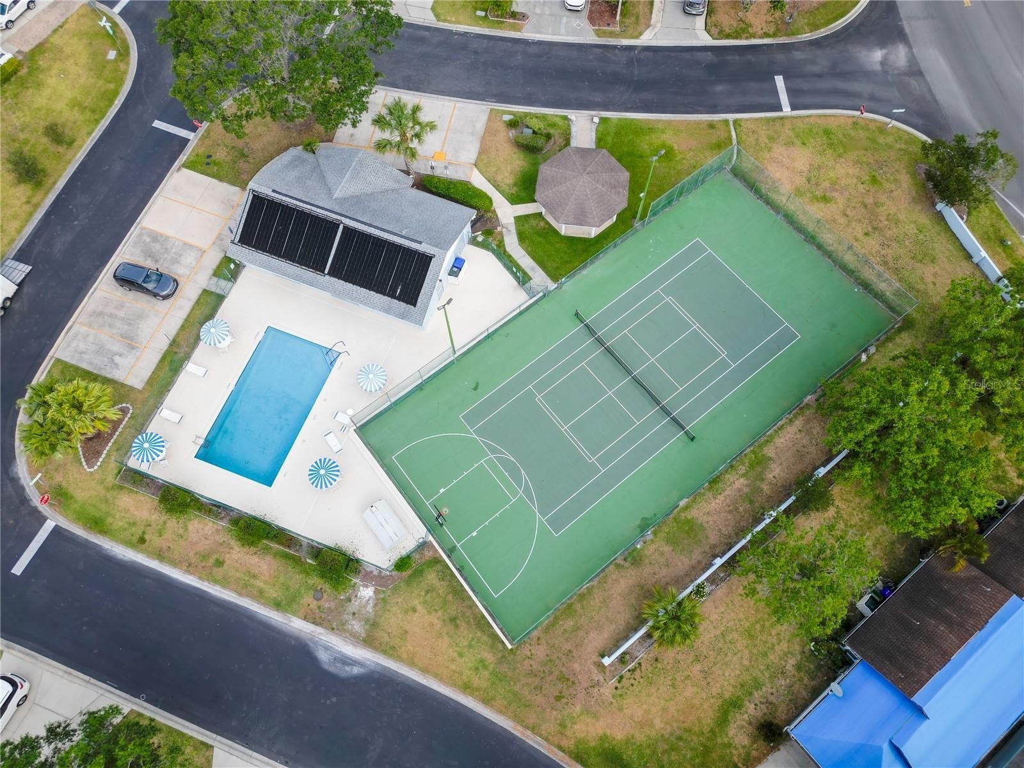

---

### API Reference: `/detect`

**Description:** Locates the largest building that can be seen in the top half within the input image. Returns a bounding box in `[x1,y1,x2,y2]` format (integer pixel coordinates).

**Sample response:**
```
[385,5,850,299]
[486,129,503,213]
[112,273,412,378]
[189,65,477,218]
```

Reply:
[225,147,479,331]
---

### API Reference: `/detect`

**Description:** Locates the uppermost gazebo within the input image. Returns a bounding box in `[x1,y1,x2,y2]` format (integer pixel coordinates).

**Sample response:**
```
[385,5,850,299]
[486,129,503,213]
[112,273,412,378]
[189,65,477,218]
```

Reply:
[535,148,629,238]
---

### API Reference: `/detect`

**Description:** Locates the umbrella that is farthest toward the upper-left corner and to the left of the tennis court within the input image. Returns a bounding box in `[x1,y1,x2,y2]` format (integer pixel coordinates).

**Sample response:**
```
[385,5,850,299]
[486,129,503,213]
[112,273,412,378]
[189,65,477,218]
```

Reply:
[202,321,232,349]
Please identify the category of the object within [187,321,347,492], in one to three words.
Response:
swimming pool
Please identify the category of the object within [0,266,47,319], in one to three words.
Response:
trailer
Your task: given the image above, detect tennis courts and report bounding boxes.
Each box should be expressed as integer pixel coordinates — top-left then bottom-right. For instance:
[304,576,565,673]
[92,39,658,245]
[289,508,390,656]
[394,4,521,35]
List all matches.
[359,166,901,647]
